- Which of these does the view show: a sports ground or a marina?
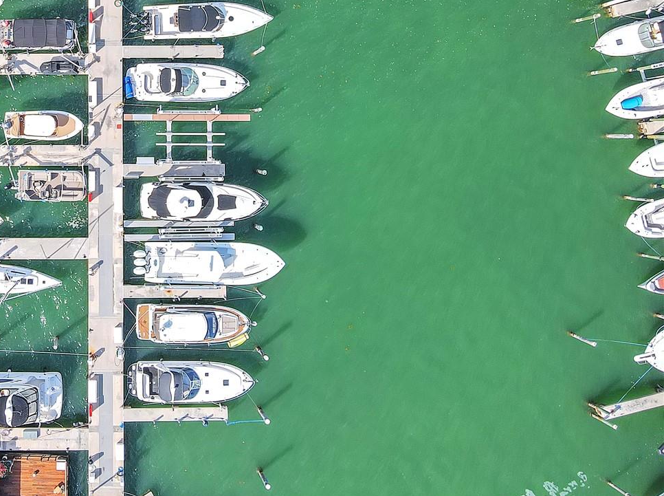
marina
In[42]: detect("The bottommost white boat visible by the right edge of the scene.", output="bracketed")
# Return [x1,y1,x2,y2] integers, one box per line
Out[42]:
[635,327,664,369]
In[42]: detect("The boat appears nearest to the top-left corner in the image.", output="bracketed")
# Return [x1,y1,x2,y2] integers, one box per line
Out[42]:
[0,18,76,49]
